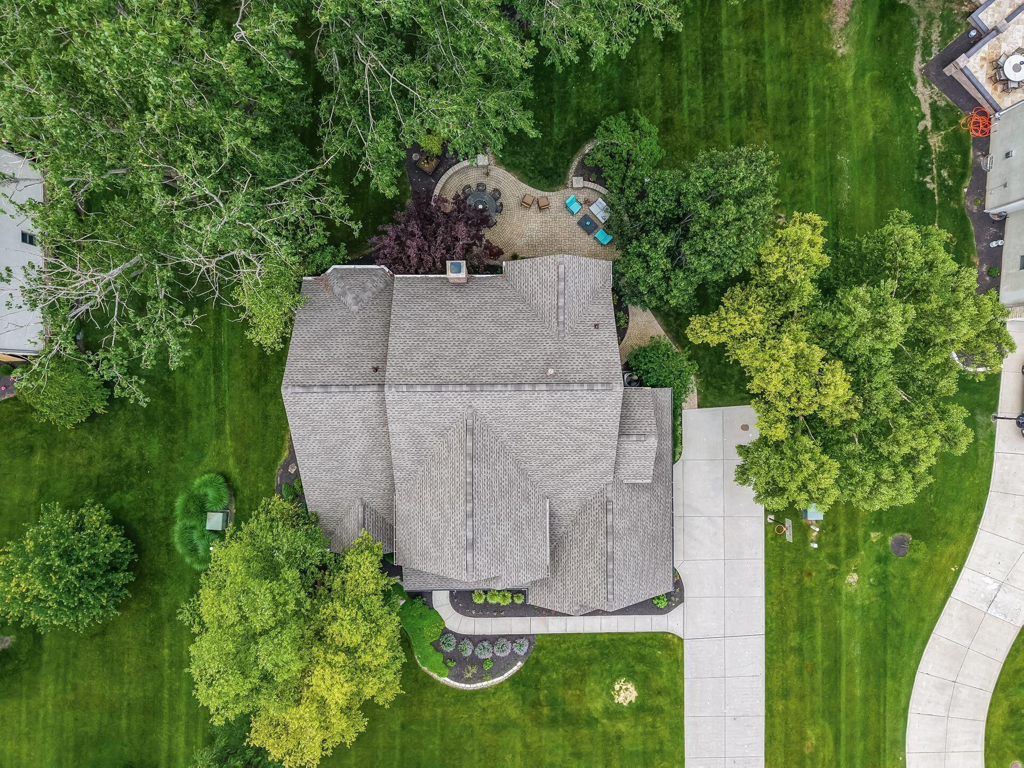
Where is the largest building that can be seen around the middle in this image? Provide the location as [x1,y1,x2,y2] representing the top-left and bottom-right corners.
[280,254,676,615]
